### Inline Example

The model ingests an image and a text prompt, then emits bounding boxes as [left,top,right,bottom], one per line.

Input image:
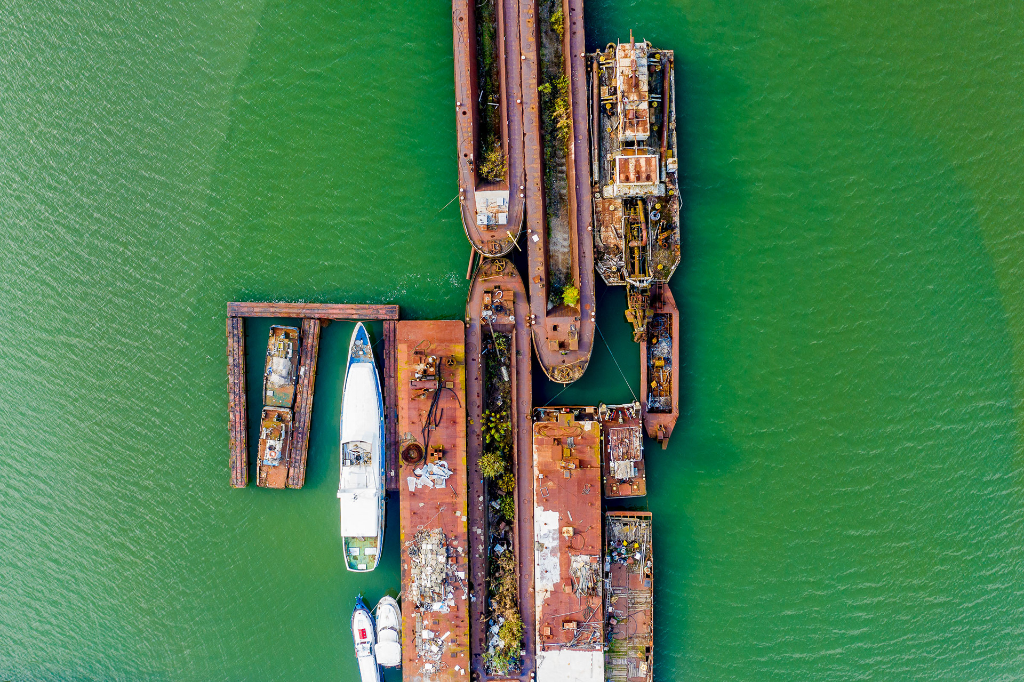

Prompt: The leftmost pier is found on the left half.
[225,318,251,488]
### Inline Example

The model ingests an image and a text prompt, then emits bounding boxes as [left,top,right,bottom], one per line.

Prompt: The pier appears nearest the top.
[227,302,401,320]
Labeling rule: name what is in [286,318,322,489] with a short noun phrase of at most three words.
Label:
pier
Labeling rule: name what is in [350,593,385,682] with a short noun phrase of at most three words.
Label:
boat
